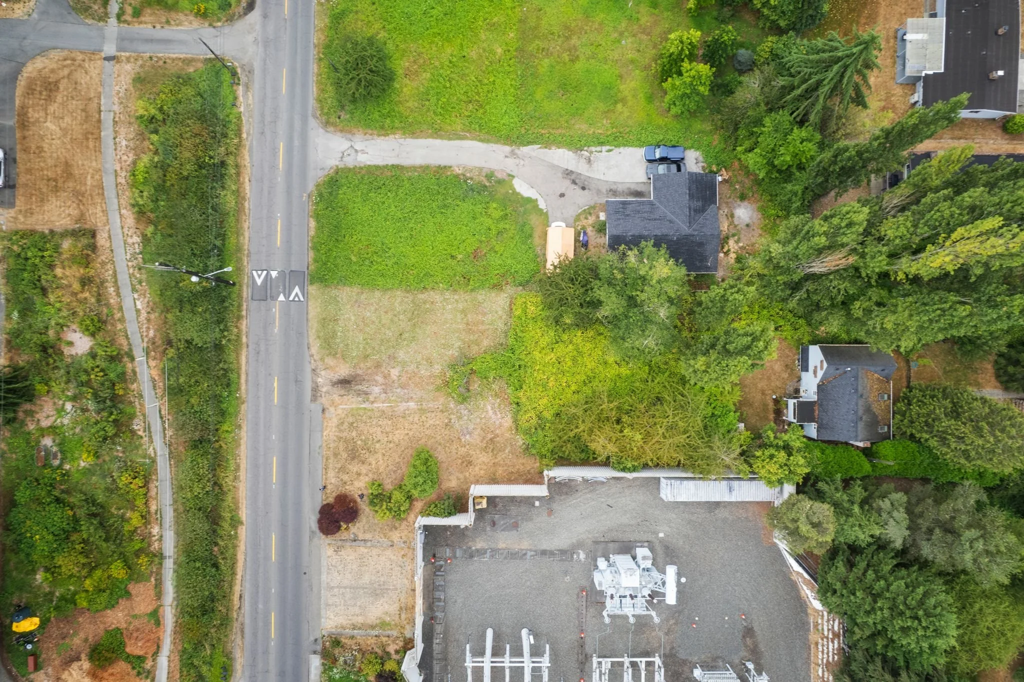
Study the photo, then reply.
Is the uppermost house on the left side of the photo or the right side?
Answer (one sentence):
You can find the uppermost house on the right side of the picture.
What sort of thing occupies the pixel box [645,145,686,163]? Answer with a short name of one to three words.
vehicle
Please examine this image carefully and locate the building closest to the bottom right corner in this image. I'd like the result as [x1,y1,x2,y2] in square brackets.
[782,344,897,448]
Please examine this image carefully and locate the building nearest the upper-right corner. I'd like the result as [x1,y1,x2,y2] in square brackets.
[895,0,1021,117]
